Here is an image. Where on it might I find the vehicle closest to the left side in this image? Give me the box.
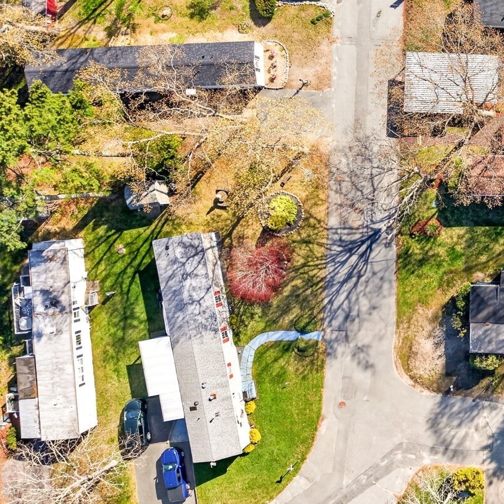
[121,397,150,445]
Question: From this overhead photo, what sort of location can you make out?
residential area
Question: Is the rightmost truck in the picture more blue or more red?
blue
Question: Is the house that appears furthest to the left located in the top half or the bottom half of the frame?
bottom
